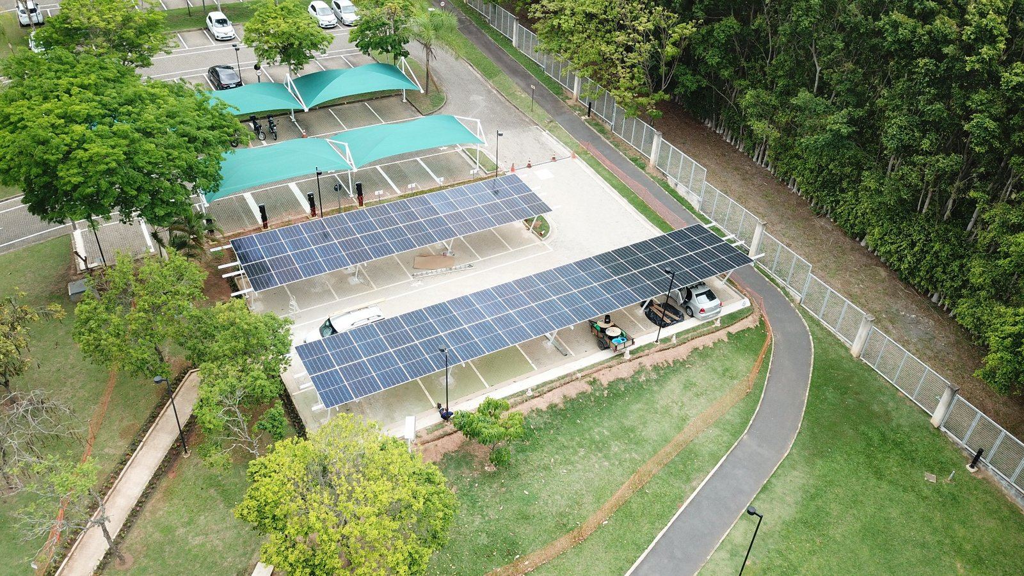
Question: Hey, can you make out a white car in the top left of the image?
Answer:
Yes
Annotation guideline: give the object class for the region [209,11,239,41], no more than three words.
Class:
car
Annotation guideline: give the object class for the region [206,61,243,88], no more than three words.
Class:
car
